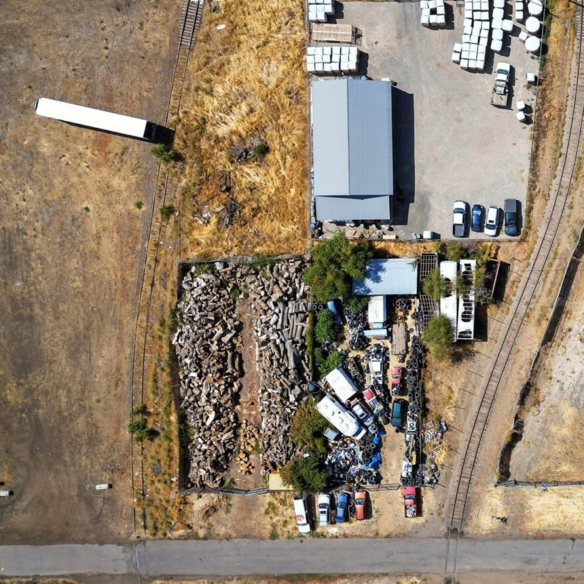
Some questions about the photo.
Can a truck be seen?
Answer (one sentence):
Yes, the frame does contain a truck.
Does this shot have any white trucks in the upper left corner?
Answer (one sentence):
Yes, a white truck appears in the upper left corner.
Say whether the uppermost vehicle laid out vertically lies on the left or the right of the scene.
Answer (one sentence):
You can find the uppermost vehicle laid out vertically on the right side of the picture.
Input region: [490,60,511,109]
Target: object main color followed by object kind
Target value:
white vehicle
